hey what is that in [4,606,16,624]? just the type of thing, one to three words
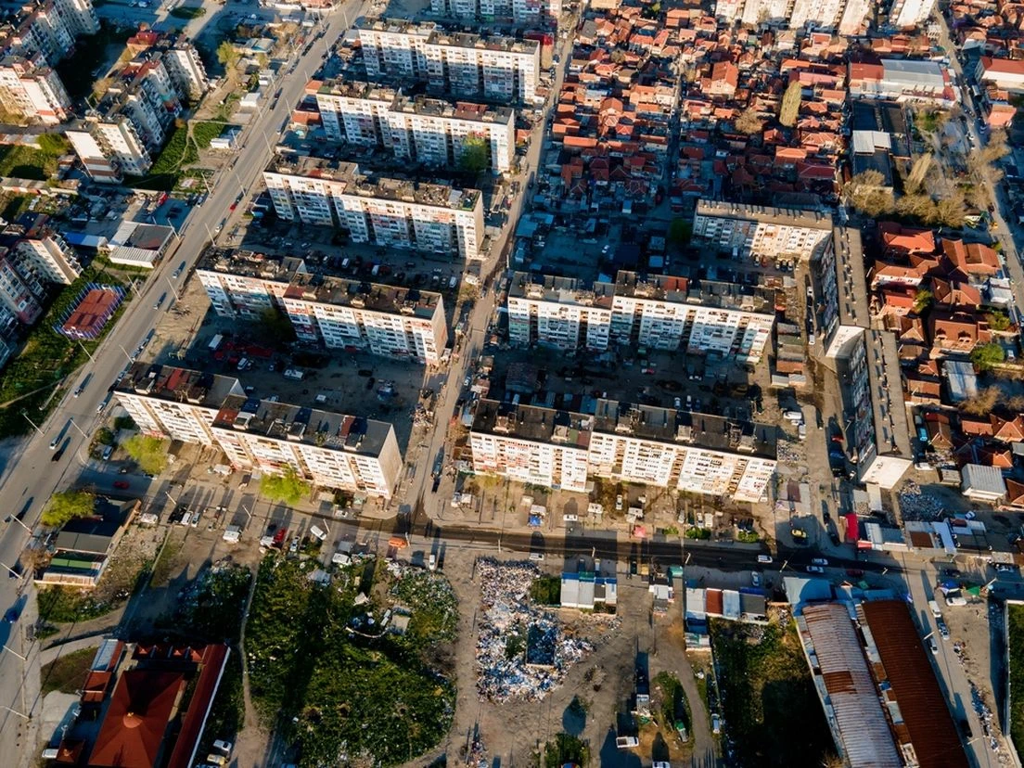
vehicle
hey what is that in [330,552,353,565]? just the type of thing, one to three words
vehicle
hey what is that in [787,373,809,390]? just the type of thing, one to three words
shed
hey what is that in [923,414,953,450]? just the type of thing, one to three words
house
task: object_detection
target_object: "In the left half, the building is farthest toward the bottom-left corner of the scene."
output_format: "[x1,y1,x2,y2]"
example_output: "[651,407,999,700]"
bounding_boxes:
[49,732,97,768]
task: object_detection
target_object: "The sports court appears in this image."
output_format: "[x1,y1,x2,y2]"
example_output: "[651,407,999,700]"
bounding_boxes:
[60,287,121,337]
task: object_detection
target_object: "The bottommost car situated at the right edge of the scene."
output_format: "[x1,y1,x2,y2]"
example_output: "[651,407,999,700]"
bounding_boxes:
[959,717,975,739]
